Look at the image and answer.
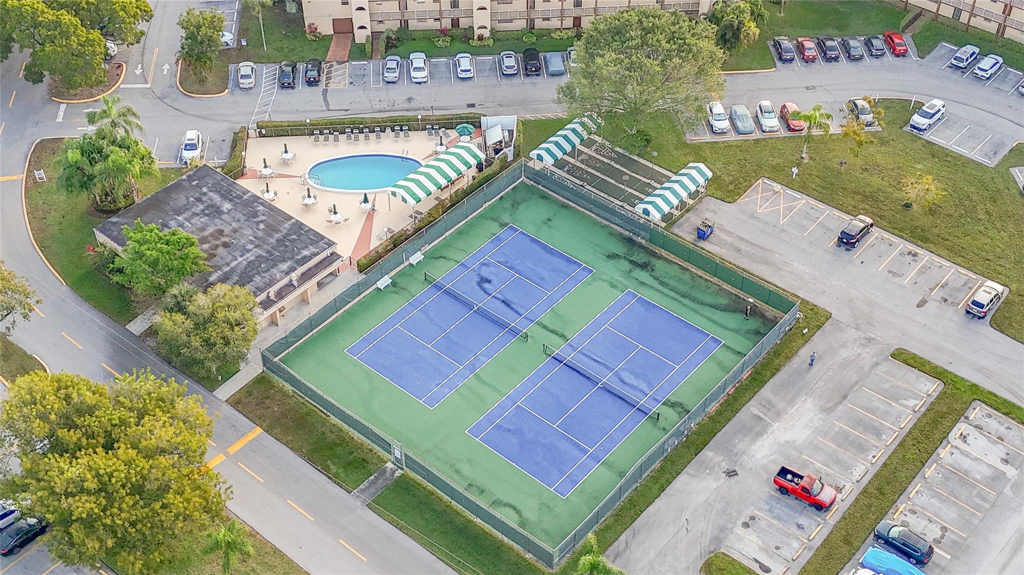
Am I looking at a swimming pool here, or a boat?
swimming pool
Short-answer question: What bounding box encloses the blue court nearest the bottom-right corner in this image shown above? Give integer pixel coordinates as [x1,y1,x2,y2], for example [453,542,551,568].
[466,288,723,498]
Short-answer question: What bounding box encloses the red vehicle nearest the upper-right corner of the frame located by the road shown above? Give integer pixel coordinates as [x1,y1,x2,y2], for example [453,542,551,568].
[882,32,908,57]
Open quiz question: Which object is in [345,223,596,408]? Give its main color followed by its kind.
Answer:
blue tennis court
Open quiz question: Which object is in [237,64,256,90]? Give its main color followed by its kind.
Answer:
white car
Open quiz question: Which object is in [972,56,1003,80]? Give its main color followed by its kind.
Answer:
white car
